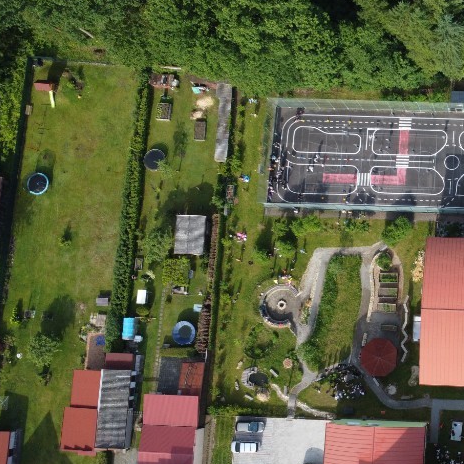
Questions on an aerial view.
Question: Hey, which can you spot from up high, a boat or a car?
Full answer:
I can see a car in this picture.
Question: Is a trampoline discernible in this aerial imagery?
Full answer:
Yes, there's a trampoline down there.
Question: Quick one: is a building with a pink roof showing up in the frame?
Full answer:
Yes, a building with a pink roof appears in the view.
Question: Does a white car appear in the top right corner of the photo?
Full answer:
No, no white car is visible in the top right corner of the photo.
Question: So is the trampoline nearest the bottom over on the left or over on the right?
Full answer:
The trampoline nearest the bottom is on the left side of the image.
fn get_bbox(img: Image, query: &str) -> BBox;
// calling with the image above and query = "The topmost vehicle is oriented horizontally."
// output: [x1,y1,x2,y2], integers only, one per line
[234,419,268,435]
